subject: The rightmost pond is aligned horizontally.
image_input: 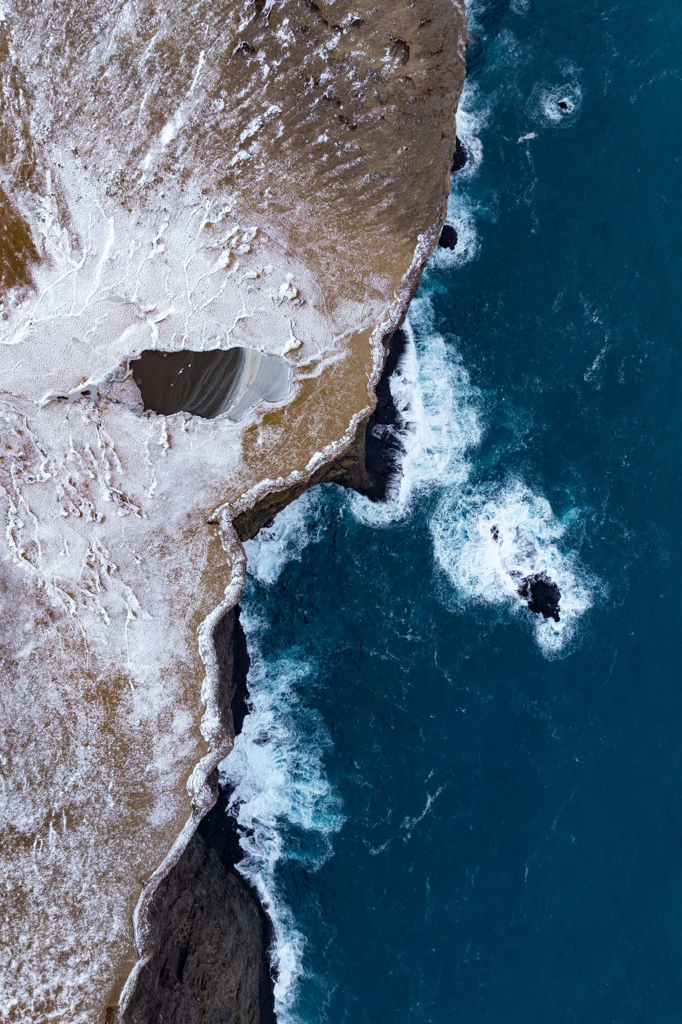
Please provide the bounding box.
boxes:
[130,348,290,420]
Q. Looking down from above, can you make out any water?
Yes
